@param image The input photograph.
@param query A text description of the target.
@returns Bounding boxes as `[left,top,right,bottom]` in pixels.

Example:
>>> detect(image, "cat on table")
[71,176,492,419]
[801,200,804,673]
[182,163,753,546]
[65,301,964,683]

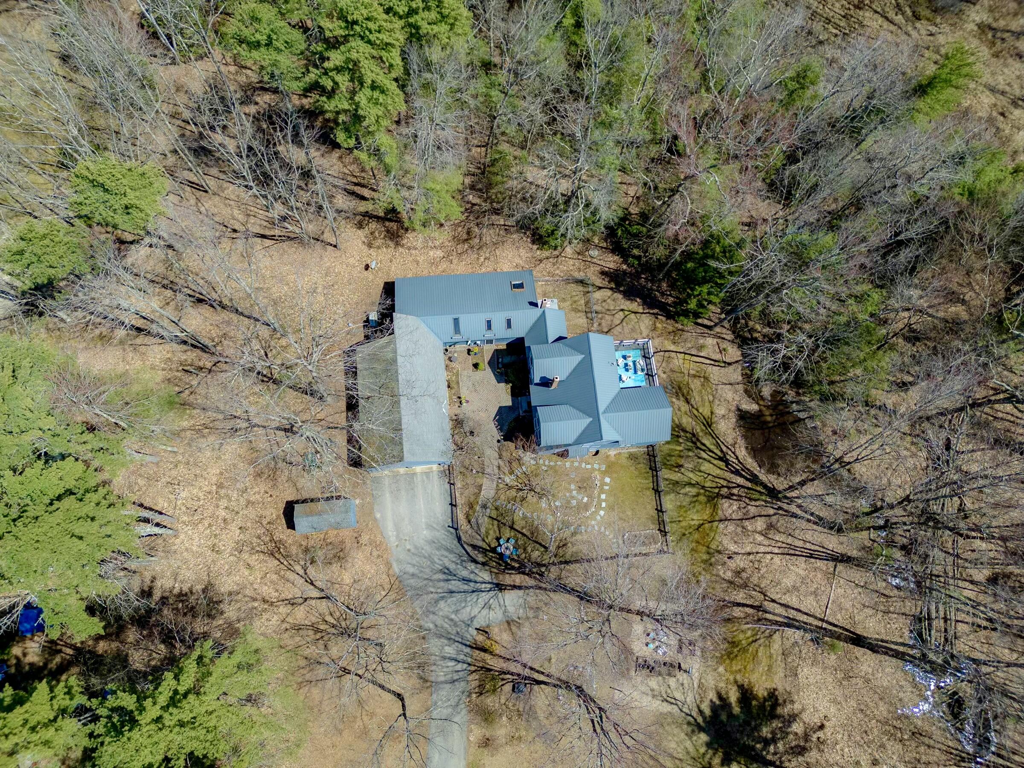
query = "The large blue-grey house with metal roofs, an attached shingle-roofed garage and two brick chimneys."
[357,270,672,471]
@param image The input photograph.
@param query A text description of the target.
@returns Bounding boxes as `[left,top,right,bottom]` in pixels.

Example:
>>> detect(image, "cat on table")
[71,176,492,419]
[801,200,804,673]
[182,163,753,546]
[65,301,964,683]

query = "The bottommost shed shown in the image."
[293,498,359,534]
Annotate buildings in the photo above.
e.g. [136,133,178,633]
[293,498,359,534]
[357,270,672,471]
